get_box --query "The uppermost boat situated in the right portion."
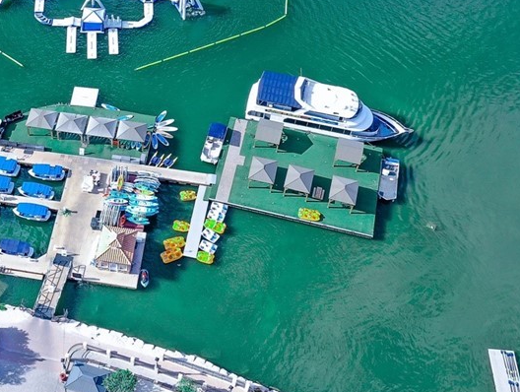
[244,68,416,149]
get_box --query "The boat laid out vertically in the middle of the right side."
[377,159,401,201]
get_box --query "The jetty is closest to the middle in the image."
[183,186,209,259]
